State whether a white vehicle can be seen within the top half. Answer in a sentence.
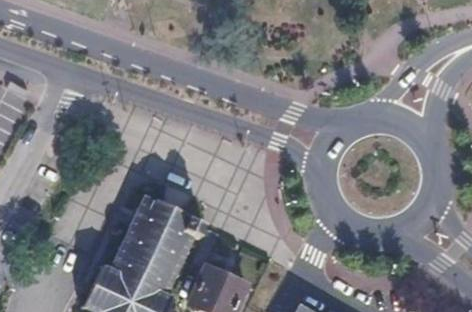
Yes, a white vehicle shows up within the top half.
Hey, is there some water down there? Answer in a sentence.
No, the scene doesn't show any water.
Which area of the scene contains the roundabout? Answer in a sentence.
The roundabout sits in the right section of the image.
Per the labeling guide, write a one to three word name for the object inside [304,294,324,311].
car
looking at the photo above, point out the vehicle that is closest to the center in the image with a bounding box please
[166,172,191,189]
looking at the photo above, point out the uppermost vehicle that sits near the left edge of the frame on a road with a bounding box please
[22,122,36,144]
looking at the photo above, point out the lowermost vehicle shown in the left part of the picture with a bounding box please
[178,276,192,297]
